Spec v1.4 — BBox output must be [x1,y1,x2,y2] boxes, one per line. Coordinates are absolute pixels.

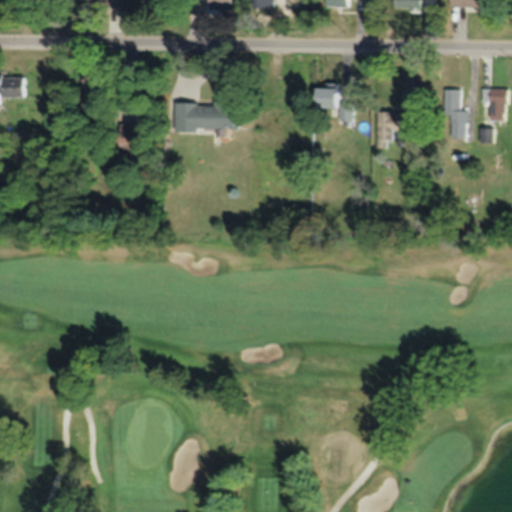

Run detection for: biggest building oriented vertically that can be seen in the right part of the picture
[445,87,470,143]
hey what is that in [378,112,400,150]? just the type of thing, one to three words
house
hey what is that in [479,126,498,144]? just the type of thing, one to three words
shed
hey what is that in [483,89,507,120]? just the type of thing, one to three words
house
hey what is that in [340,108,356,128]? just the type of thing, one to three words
building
